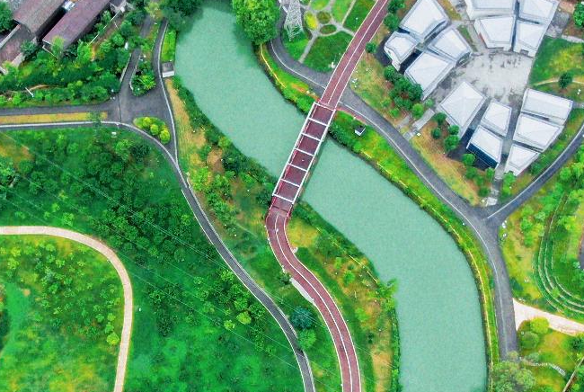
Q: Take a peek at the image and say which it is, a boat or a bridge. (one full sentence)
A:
Of the two, only a bridge appears.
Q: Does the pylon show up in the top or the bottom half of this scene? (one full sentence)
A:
It is in the top half that the pylon appears.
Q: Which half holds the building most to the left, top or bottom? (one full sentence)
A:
You can find the building most to the left in the top half.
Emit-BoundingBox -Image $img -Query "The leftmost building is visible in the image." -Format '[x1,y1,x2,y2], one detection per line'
[13,0,67,41]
